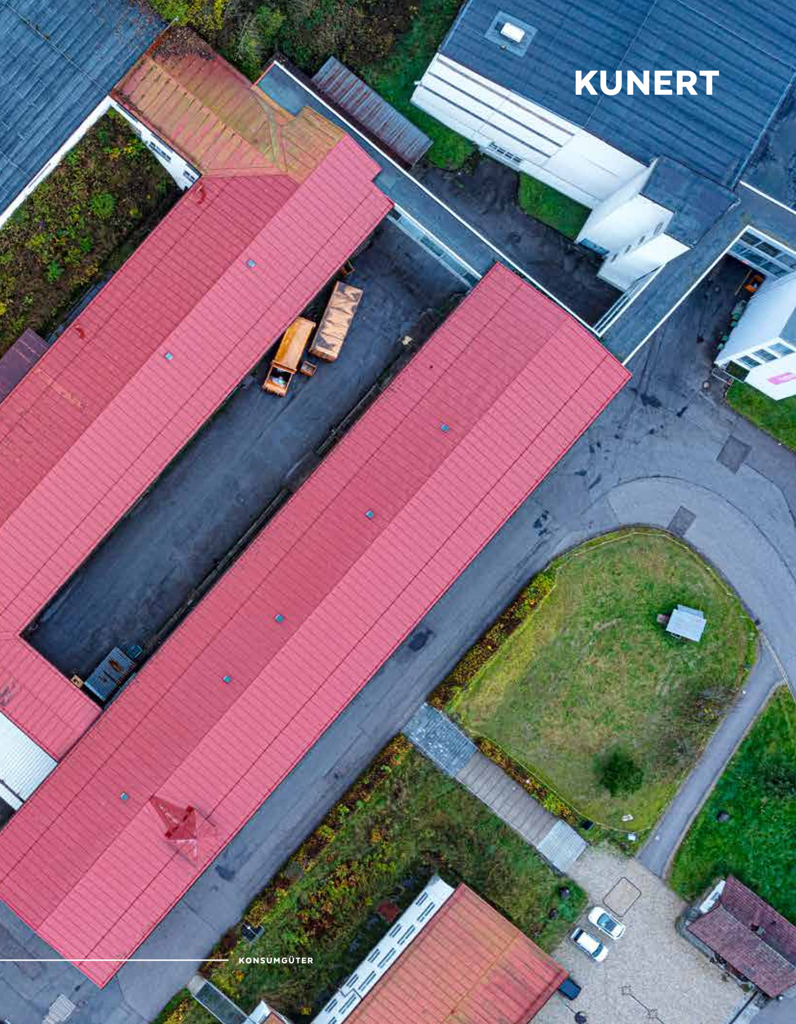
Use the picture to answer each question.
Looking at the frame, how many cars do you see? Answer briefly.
3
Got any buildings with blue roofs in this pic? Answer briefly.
Yes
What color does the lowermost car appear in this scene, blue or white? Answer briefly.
blue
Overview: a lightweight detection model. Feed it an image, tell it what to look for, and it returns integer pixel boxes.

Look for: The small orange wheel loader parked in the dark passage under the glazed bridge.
[738,268,772,294]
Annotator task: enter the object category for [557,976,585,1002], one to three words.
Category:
car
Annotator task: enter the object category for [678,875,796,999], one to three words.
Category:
house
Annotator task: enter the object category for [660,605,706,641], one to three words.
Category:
shed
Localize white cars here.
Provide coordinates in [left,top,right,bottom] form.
[573,930,611,963]
[591,909,629,942]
